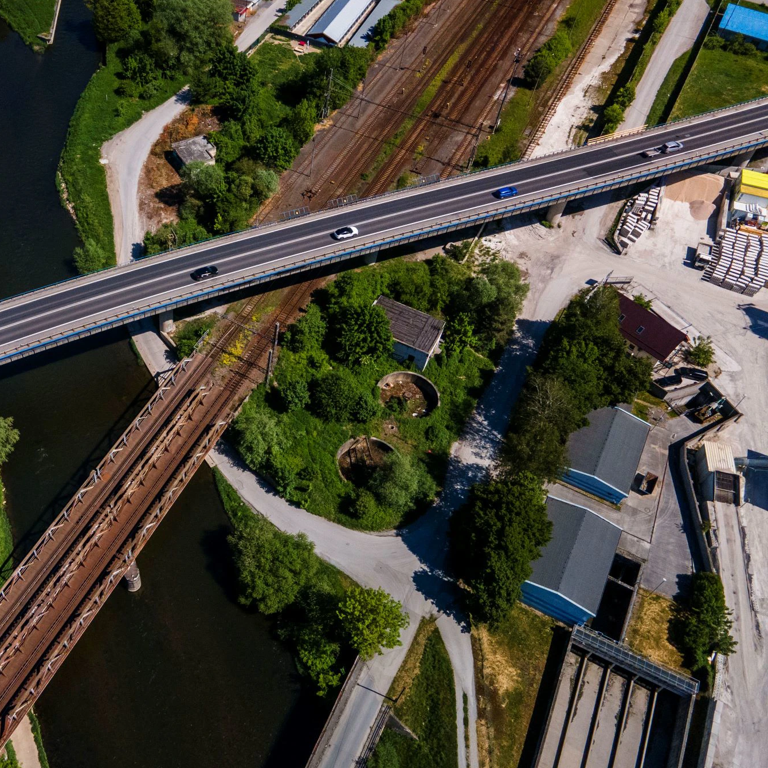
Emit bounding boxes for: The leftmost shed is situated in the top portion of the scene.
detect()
[172,134,216,177]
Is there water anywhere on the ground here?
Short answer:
Yes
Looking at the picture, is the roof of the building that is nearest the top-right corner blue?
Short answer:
Yes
